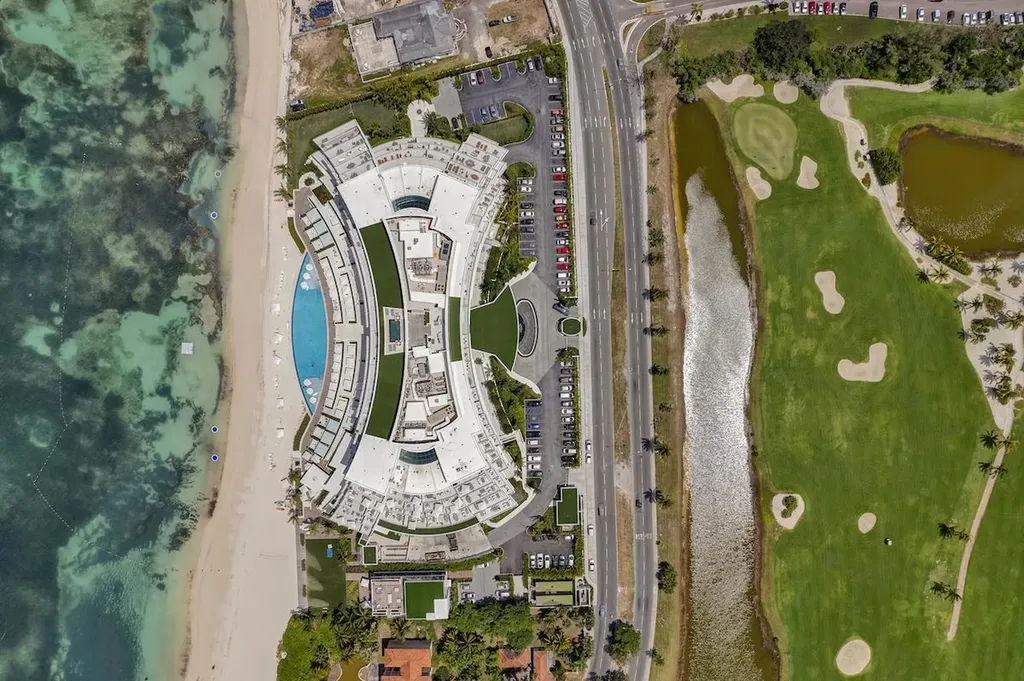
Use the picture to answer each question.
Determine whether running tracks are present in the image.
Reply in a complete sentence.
No, the photo shows no running track.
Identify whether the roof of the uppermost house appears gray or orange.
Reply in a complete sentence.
In this view, the roof of the uppermost house is gray.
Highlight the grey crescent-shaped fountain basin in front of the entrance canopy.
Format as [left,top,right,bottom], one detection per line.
[517,297,539,358]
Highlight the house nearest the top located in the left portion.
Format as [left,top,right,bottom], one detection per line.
[348,0,467,84]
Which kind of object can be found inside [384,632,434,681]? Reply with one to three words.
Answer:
house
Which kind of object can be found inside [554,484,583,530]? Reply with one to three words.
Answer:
building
